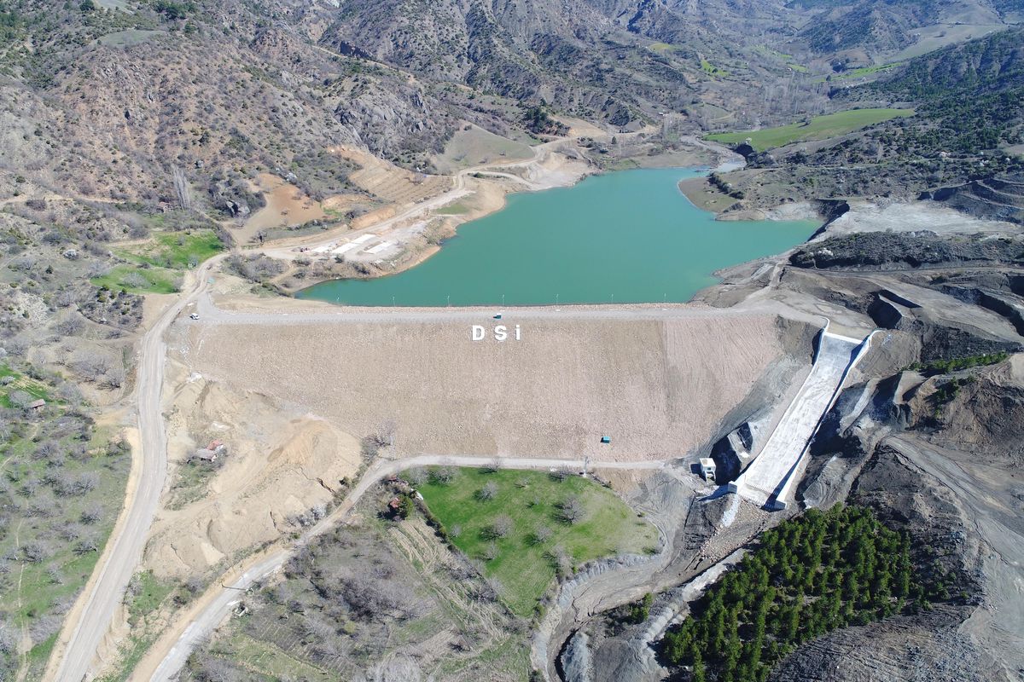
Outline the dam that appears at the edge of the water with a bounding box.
[181,304,781,465]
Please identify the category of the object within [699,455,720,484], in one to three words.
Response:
building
